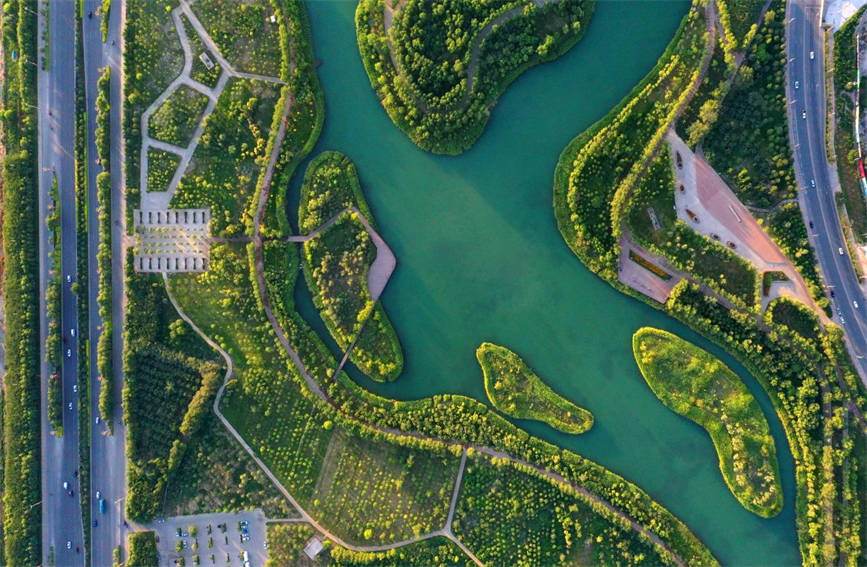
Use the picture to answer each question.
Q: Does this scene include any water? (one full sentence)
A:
Yes, water can be seen from above here.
